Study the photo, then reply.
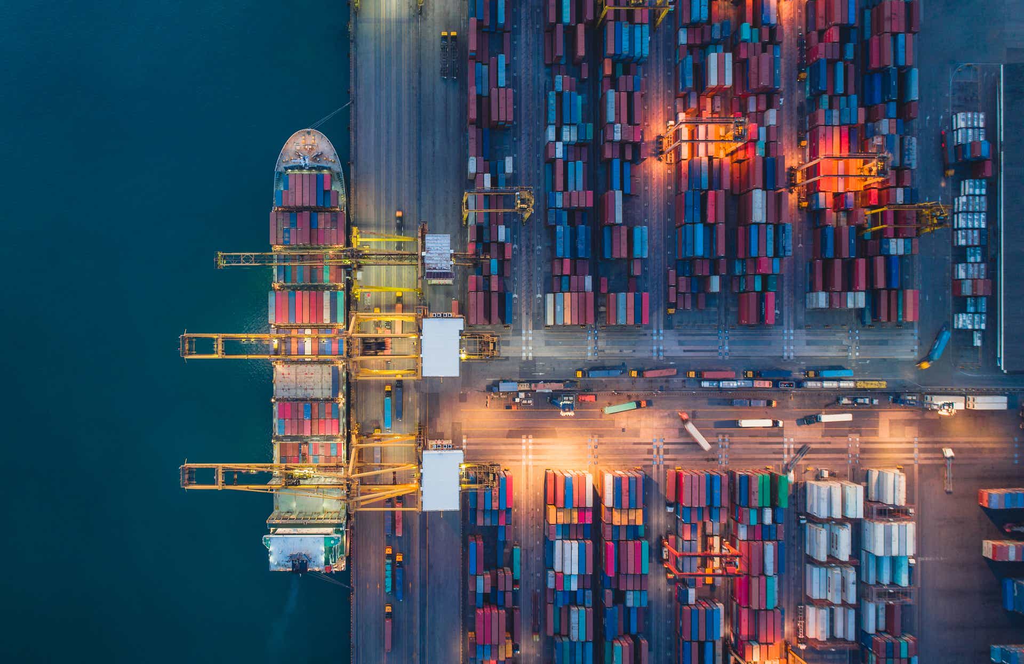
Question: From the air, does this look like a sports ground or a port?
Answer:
port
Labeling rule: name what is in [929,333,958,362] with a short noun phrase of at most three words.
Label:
shipping container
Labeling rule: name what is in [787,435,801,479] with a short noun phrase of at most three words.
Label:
vehicle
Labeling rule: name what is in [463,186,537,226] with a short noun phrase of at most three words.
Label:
container crane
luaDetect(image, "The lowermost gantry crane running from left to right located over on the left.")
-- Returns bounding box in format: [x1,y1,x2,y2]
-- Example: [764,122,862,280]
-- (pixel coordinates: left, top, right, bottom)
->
[177,417,498,518]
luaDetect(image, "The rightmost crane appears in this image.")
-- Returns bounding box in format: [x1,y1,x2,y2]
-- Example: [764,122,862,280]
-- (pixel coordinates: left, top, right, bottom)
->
[861,202,964,240]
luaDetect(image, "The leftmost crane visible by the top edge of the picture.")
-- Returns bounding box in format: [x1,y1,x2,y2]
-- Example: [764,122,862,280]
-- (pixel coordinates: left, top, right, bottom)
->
[595,0,676,38]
